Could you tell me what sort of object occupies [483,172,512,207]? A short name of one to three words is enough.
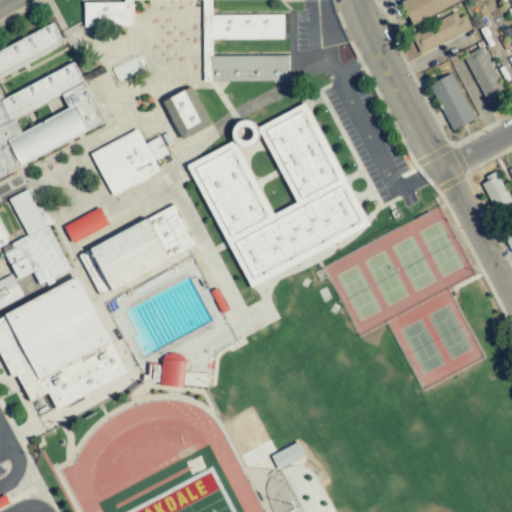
house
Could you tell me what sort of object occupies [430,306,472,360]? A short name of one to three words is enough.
tennis court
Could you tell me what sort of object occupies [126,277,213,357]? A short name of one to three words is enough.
swimming pool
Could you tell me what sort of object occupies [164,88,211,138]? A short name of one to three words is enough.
building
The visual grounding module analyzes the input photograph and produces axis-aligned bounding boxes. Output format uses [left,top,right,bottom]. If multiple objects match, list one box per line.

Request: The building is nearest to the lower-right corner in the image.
[272,442,306,468]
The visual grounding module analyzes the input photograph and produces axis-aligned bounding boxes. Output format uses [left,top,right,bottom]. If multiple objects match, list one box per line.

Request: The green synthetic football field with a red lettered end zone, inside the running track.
[100,446,245,512]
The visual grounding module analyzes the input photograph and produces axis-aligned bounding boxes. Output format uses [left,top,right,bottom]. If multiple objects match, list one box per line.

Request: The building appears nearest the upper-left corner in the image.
[0,23,63,74]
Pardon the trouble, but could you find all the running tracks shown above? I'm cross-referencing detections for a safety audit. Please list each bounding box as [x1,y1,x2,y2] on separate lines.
[63,400,269,512]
